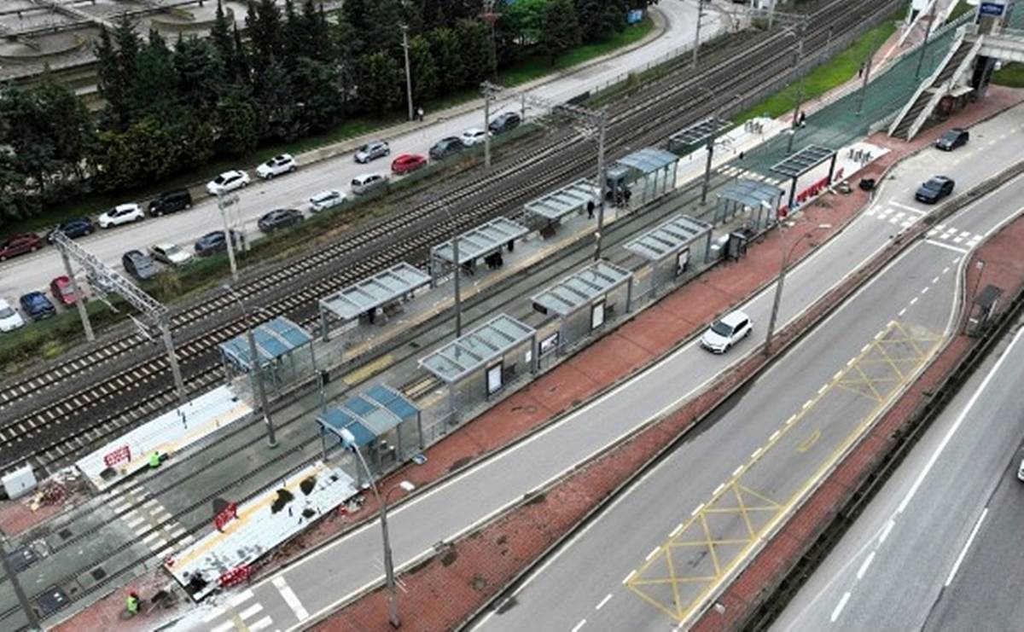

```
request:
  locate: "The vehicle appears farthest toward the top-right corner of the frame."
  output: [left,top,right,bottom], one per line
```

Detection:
[935,123,971,148]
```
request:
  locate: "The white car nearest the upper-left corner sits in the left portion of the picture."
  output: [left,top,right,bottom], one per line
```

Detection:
[98,199,148,225]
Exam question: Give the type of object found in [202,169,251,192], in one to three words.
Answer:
car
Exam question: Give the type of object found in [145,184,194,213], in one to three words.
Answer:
van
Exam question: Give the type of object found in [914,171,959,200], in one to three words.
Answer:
car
